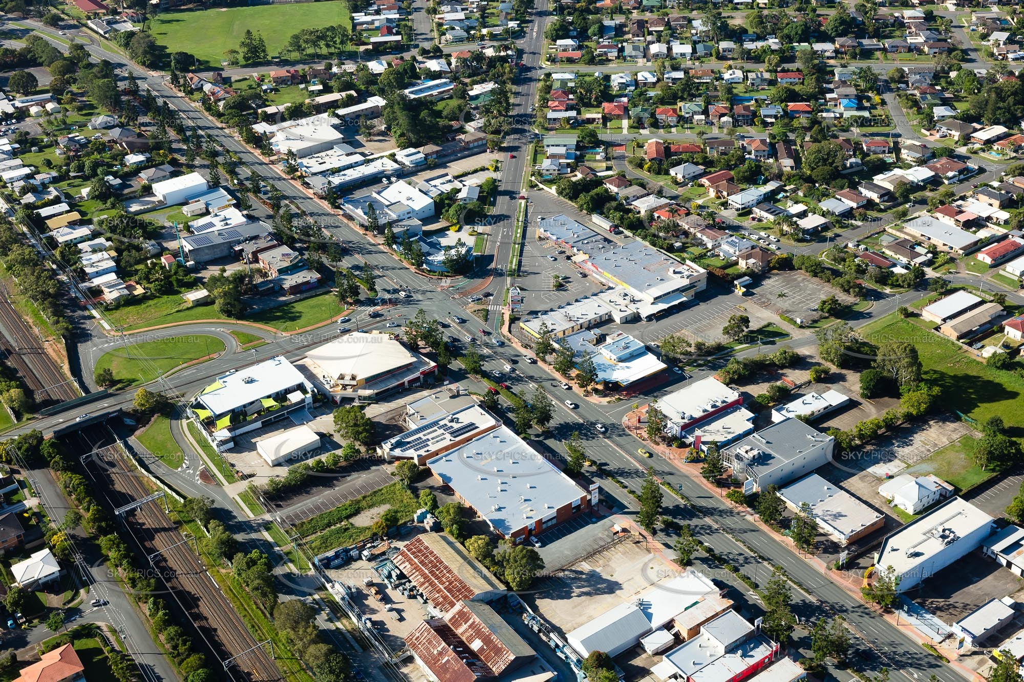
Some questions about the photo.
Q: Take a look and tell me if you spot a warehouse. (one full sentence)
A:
Yes, the picture does show a warehouse.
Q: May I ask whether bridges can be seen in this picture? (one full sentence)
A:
Yes, the frame does contain a bridge.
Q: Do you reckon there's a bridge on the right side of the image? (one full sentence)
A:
No, on the right side of the image there is no bridge.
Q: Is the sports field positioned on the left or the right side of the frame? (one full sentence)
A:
The sports field appears in the left half of the scene.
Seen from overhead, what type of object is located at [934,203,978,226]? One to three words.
house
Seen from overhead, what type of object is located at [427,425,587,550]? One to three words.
warehouse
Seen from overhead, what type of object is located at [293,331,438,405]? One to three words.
building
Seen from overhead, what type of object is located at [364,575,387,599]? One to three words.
truck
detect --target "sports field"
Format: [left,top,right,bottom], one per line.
[148,0,356,65]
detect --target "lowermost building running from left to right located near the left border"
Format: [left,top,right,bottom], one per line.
[12,648,84,682]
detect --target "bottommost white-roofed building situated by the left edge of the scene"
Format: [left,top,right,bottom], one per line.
[11,553,61,595]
